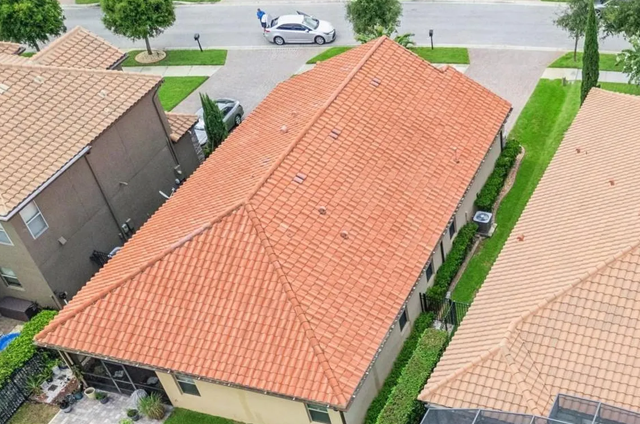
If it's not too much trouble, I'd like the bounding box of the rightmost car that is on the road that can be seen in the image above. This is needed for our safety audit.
[260,3,338,43]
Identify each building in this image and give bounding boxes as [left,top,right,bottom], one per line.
[32,33,515,424]
[419,82,640,424]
